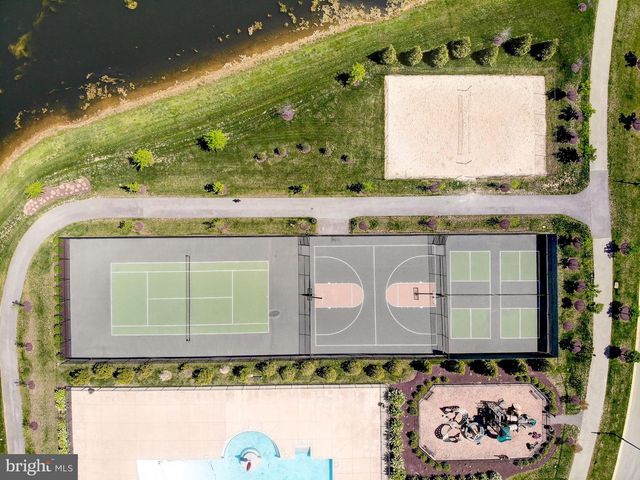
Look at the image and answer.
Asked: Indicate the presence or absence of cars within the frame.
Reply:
No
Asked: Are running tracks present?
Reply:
No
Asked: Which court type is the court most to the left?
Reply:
tennis court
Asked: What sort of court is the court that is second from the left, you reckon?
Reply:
basketball court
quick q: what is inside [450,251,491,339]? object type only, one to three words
sports court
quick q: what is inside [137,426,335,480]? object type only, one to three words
swimming pool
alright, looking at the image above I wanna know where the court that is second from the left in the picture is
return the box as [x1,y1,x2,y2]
[310,235,441,356]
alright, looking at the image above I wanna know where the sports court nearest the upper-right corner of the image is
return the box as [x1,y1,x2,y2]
[385,75,547,179]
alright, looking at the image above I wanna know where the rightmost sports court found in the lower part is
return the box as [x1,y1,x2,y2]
[500,251,540,339]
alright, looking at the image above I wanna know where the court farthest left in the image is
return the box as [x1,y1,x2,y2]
[71,236,311,359]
